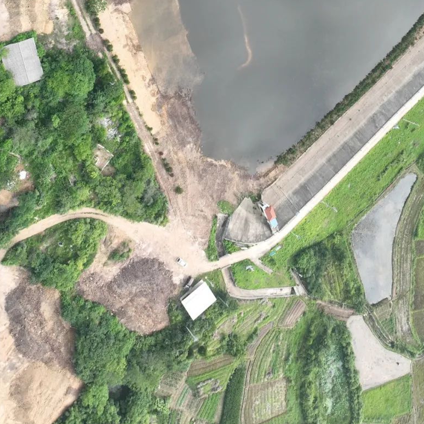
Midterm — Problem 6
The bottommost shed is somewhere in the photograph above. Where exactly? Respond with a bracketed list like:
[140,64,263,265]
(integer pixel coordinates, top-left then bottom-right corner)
[179,276,216,320]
